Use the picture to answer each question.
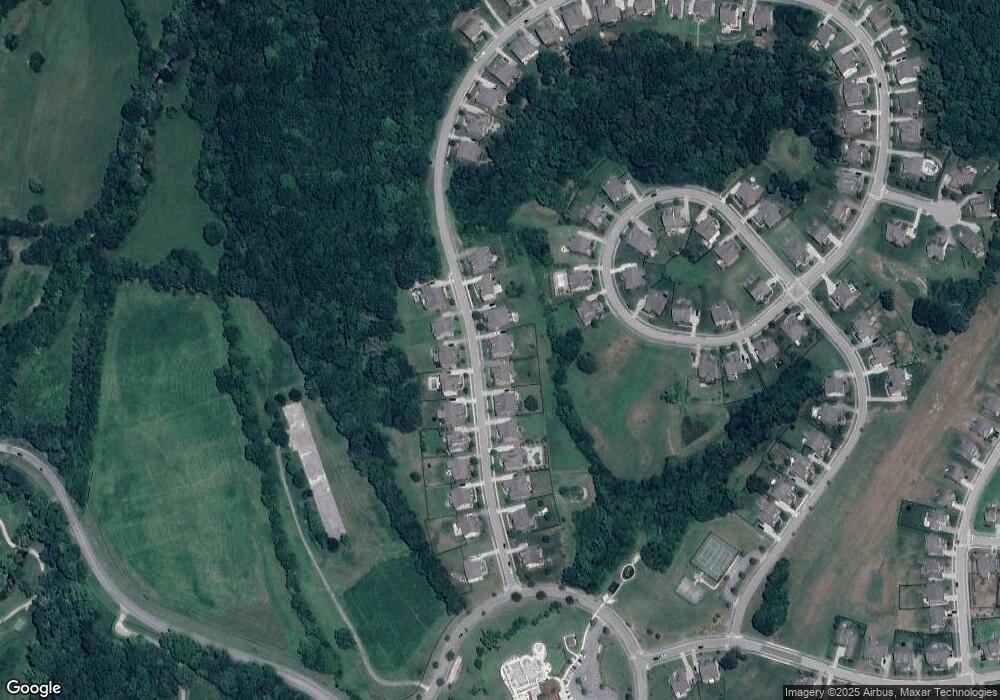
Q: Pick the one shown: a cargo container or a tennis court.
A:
tennis court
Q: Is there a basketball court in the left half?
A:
No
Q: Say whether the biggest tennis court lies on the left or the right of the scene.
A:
right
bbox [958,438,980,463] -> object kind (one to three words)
house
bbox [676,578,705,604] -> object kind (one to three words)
basketball court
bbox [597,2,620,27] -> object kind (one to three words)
house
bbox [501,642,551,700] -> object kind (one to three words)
swimming pool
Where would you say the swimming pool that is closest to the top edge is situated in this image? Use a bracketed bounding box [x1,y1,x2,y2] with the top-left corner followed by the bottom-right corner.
[924,160,938,176]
